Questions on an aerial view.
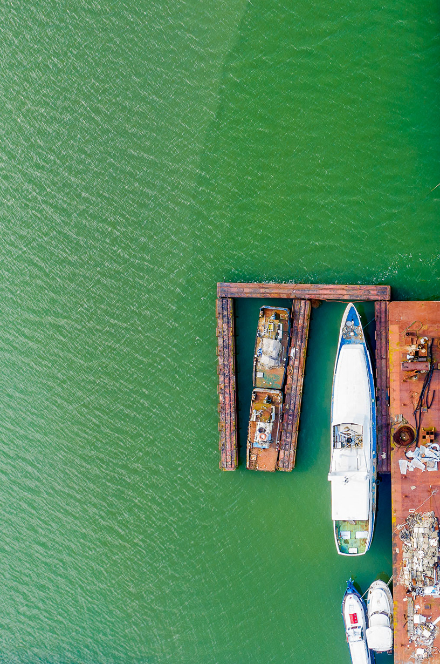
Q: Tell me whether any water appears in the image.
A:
Yes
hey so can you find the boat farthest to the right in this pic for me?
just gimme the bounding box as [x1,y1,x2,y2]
[366,579,393,656]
